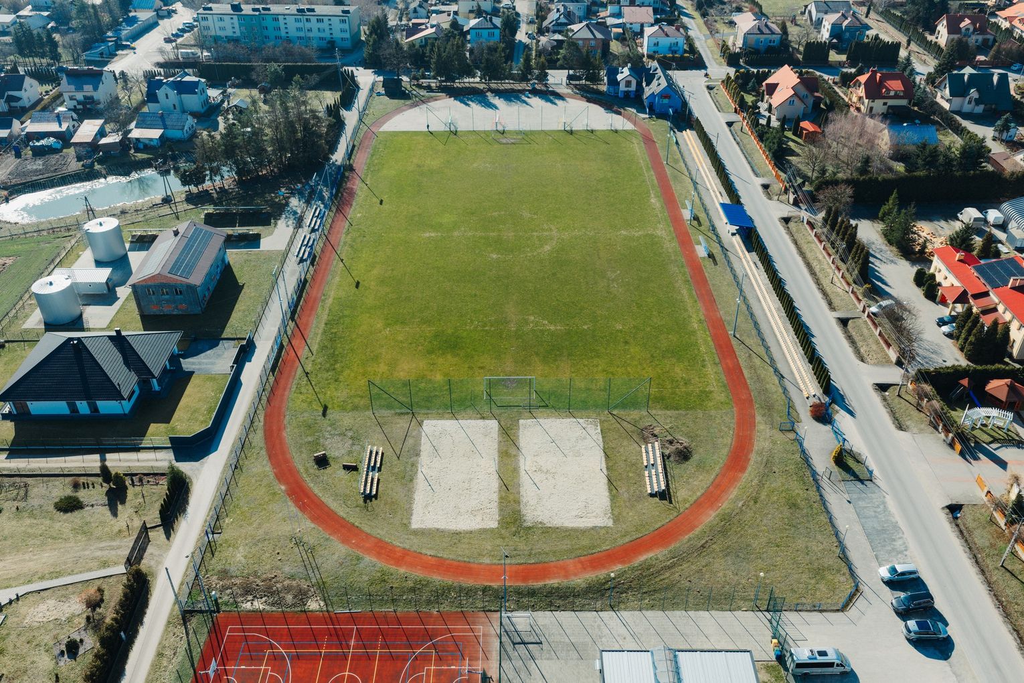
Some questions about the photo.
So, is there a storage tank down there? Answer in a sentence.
Yes, the frame does contain a storage tank.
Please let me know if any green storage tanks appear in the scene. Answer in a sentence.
No, there isn't any green storage tank down there.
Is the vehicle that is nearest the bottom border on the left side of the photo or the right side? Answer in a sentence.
The vehicle that is nearest the bottom border appears in the right half of the scene.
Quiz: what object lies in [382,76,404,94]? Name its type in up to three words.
shed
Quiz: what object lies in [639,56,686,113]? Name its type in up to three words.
building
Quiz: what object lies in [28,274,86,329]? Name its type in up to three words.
storage tank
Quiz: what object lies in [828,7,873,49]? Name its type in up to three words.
house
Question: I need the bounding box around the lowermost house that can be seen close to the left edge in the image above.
[0,326,188,423]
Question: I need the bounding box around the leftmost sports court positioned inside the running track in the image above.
[408,419,501,532]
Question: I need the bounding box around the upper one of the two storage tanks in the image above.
[82,217,130,264]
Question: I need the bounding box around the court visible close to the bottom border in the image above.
[185,611,501,683]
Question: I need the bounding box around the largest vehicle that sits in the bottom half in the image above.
[790,646,855,678]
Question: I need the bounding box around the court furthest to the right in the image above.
[517,418,614,529]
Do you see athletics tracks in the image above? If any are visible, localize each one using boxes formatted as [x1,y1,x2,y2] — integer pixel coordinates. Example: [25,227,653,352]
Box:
[263,89,756,586]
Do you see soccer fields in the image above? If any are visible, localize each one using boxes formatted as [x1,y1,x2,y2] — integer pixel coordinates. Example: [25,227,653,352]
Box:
[289,130,731,415]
